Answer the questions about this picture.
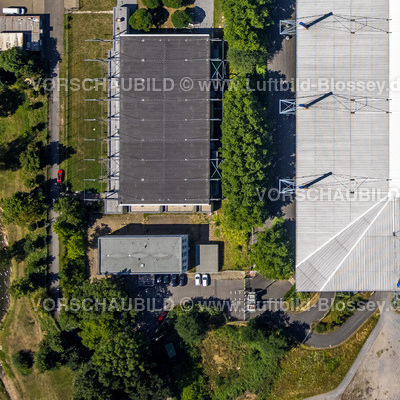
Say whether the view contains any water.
No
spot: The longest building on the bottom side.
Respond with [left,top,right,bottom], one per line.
[98,235,190,274]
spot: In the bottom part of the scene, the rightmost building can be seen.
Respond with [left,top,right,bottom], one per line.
[195,243,221,272]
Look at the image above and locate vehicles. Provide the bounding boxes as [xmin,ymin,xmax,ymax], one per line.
[0,8,24,15]
[56,170,63,183]
[164,274,170,286]
[172,274,178,286]
[195,273,201,285]
[202,274,208,286]
[180,274,186,286]
[156,274,162,286]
